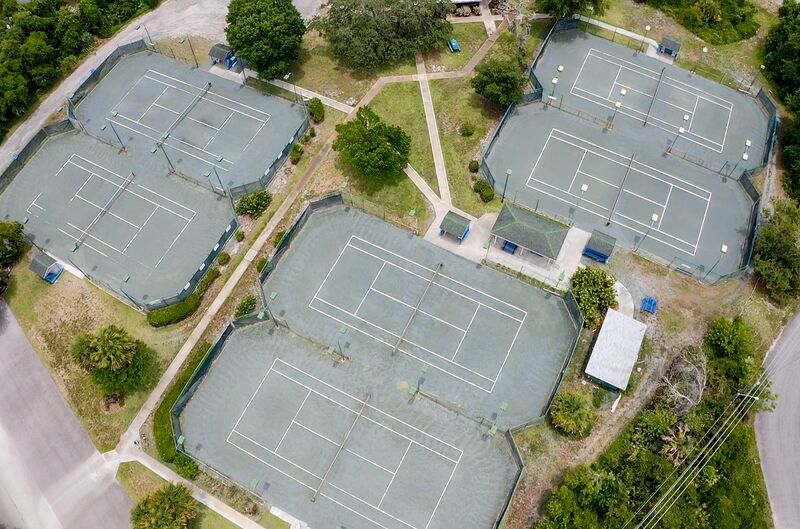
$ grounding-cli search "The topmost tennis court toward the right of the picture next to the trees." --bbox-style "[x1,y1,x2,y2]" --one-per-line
[531,29,768,177]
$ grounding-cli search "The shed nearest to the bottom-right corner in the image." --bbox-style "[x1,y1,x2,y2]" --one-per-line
[580,309,648,394]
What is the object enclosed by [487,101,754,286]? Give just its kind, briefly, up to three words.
tennis court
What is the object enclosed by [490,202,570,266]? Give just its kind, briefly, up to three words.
building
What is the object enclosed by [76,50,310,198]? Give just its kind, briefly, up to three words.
tennis court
